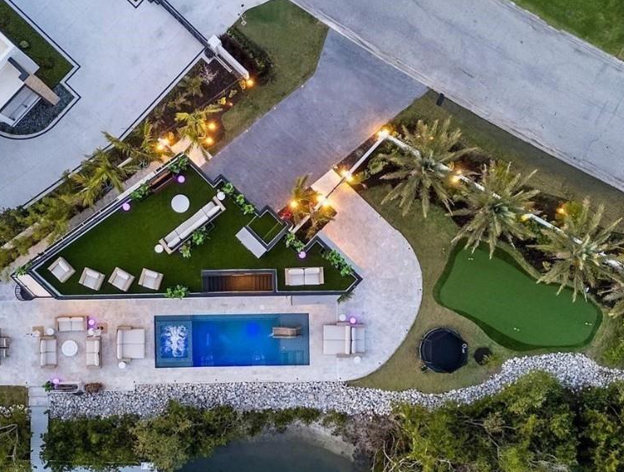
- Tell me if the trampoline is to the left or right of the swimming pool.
to the right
